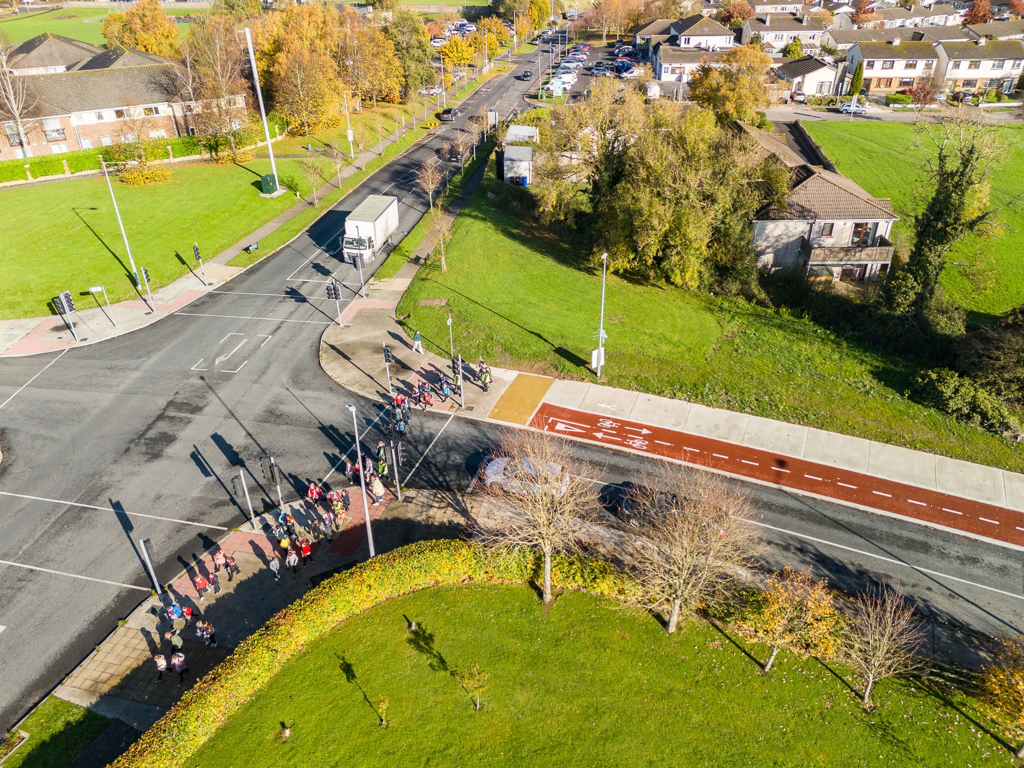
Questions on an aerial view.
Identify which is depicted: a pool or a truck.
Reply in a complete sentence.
This aerial view contains a truck.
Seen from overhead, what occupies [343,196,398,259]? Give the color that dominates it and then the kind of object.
white truck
